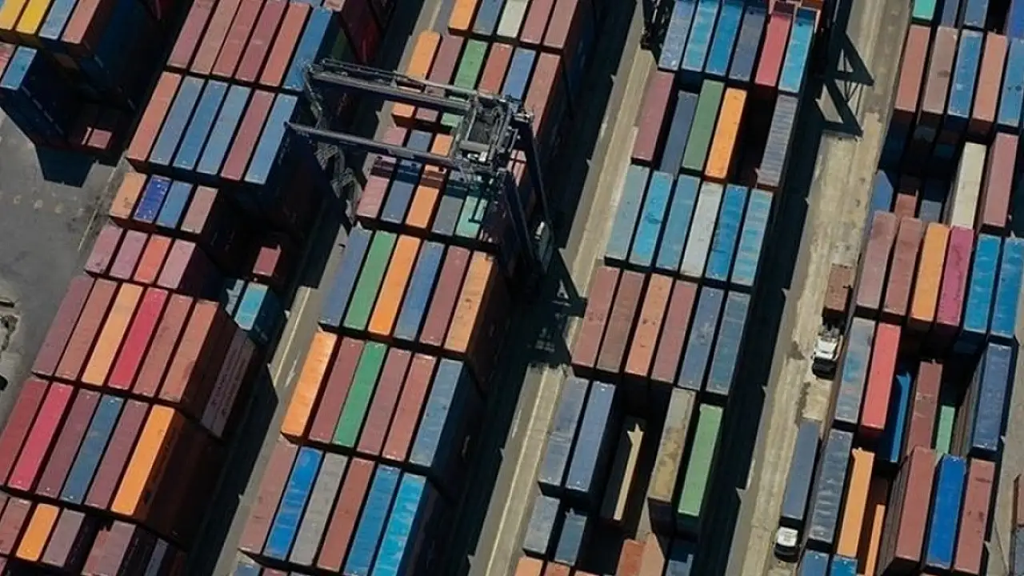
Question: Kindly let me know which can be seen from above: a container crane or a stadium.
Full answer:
It is a container crane that can be seen here.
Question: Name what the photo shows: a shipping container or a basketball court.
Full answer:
This aerial view contains a shipping container.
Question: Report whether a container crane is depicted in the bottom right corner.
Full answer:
No, no container crane appears in the bottom right corner.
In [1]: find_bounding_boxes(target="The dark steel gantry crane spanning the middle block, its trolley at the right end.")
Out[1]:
[287,61,556,278]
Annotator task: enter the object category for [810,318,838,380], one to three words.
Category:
truck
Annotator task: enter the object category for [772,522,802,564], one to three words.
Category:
truck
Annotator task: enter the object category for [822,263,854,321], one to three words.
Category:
shipping container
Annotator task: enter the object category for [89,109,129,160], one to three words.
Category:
shipping container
